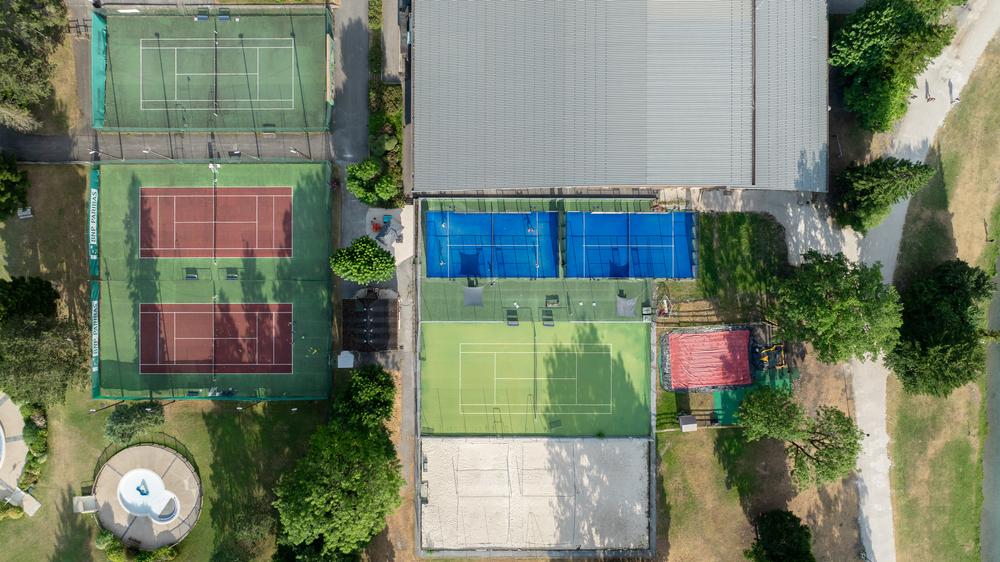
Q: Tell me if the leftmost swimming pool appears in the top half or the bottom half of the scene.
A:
bottom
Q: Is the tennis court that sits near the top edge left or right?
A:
left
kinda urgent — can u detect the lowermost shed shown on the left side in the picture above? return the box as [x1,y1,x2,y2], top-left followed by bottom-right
[337,350,355,368]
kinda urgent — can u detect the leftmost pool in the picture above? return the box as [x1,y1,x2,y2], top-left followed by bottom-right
[0,396,26,493]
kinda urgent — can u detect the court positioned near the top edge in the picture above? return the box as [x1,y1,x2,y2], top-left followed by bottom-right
[105,16,330,131]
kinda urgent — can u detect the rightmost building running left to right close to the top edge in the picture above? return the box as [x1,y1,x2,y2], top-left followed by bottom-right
[409,0,832,197]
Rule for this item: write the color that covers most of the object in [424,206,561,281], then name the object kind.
blue sports court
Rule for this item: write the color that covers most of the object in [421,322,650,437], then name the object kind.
green tennis court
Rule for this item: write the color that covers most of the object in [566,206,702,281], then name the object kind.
blue sports court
